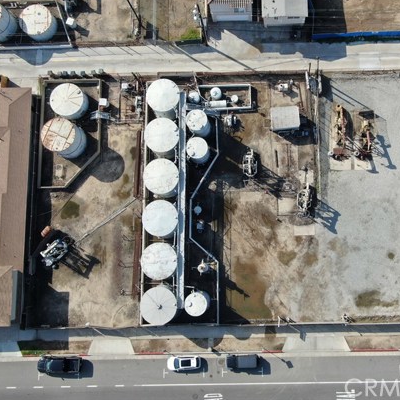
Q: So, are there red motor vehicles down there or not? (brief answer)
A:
No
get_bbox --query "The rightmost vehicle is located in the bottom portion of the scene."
[226,354,259,372]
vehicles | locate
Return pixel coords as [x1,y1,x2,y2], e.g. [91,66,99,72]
[226,354,259,372]
[167,355,201,372]
[37,355,82,374]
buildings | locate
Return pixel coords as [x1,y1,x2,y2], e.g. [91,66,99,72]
[271,106,308,138]
[0,88,32,269]
[208,0,253,22]
[262,0,309,34]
